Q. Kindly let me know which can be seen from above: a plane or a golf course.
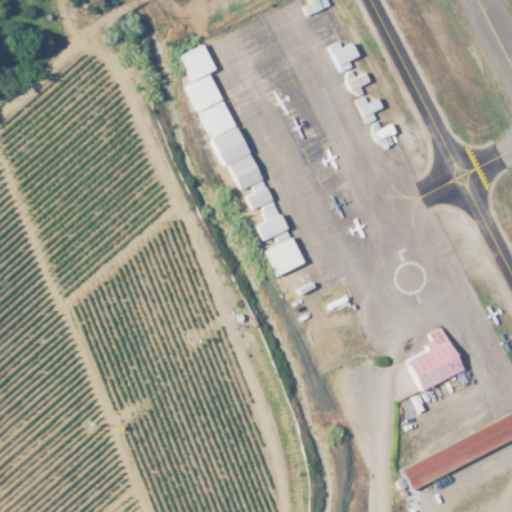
plane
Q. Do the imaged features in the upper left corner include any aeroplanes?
No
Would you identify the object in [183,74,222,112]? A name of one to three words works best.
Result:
hangar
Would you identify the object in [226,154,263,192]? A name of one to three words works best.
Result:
hangar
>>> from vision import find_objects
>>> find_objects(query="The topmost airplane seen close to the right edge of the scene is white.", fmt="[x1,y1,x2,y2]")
[486,306,504,325]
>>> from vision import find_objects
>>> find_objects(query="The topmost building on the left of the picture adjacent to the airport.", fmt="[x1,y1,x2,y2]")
[179,44,216,82]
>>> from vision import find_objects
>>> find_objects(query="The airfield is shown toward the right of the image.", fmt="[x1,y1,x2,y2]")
[204,0,512,408]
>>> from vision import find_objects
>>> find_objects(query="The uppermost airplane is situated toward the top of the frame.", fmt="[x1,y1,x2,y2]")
[274,91,292,114]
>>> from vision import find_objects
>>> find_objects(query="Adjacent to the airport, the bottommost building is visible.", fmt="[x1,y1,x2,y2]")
[404,412,512,490]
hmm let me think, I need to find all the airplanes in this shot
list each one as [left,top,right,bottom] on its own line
[321,148,338,170]
[499,334,512,351]
[486,306,504,325]
[292,118,309,138]
[349,218,365,238]
[274,91,292,114]
[332,196,348,218]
